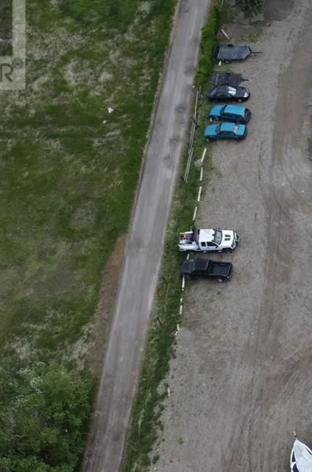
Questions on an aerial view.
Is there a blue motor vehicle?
Yes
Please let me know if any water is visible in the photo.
No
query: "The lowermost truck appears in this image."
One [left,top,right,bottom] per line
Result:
[178,258,237,283]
